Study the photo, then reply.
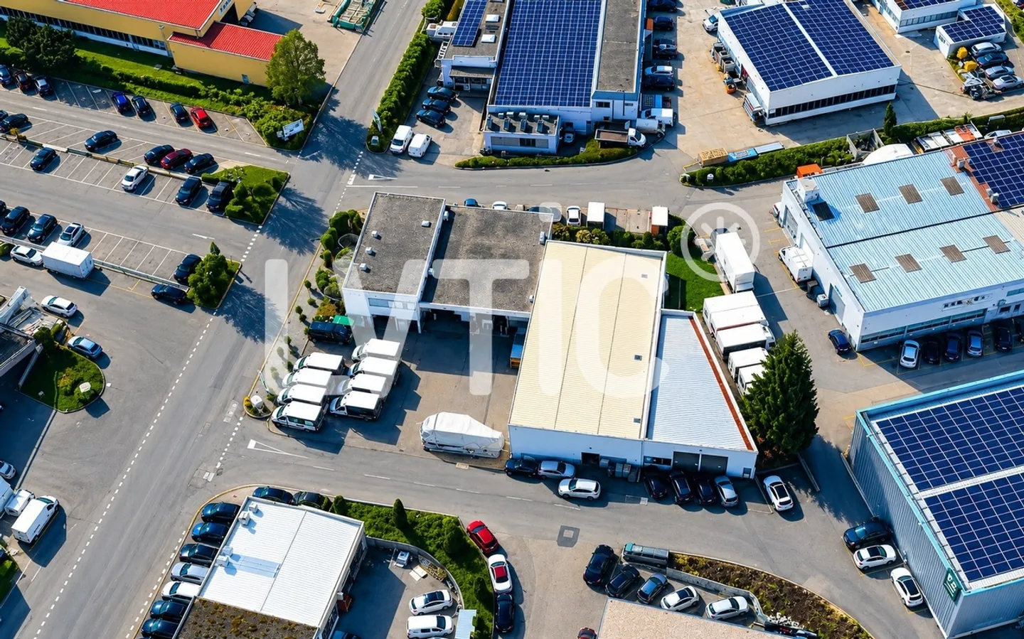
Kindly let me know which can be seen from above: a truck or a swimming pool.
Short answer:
truck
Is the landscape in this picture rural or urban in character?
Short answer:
urban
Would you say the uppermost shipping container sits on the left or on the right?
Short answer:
left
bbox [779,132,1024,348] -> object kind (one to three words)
building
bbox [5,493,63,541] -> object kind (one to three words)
van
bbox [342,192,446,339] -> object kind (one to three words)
building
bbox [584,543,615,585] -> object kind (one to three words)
car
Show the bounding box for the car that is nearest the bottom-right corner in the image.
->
[889,567,928,607]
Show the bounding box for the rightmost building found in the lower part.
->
[844,370,1024,635]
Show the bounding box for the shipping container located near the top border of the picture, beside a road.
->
[328,0,379,28]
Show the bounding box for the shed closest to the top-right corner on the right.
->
[933,4,1007,61]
